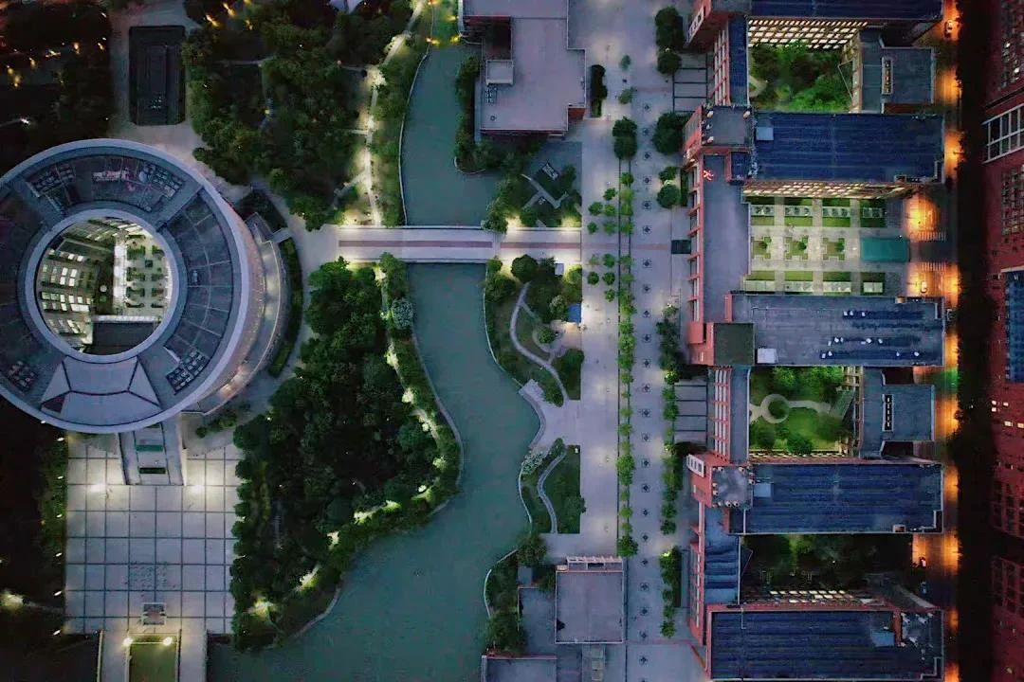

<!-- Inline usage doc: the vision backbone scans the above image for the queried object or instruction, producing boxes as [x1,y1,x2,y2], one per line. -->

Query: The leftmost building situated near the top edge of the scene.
[129,25,193,130]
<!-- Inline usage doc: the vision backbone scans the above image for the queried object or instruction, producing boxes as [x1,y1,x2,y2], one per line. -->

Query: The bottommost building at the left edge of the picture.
[0,140,294,432]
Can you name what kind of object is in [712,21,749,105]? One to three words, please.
building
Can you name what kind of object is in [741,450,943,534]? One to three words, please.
building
